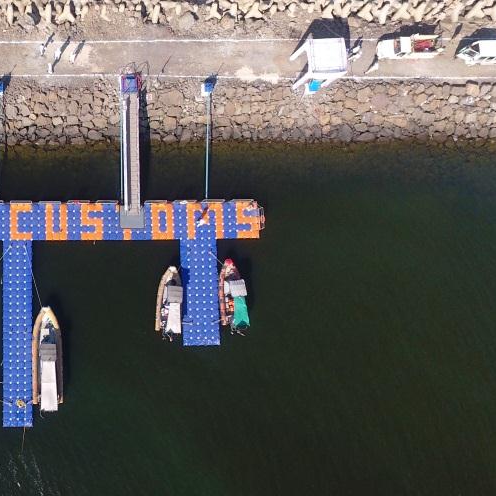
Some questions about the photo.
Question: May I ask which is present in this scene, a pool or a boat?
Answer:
boat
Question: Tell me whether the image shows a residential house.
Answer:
No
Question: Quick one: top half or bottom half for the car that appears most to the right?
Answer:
top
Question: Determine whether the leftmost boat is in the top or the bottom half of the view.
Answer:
bottom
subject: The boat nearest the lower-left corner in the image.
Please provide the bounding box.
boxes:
[31,308,63,412]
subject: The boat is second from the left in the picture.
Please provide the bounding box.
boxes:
[153,266,186,337]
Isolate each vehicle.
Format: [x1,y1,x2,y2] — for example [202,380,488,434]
[452,39,496,68]
[373,32,446,62]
